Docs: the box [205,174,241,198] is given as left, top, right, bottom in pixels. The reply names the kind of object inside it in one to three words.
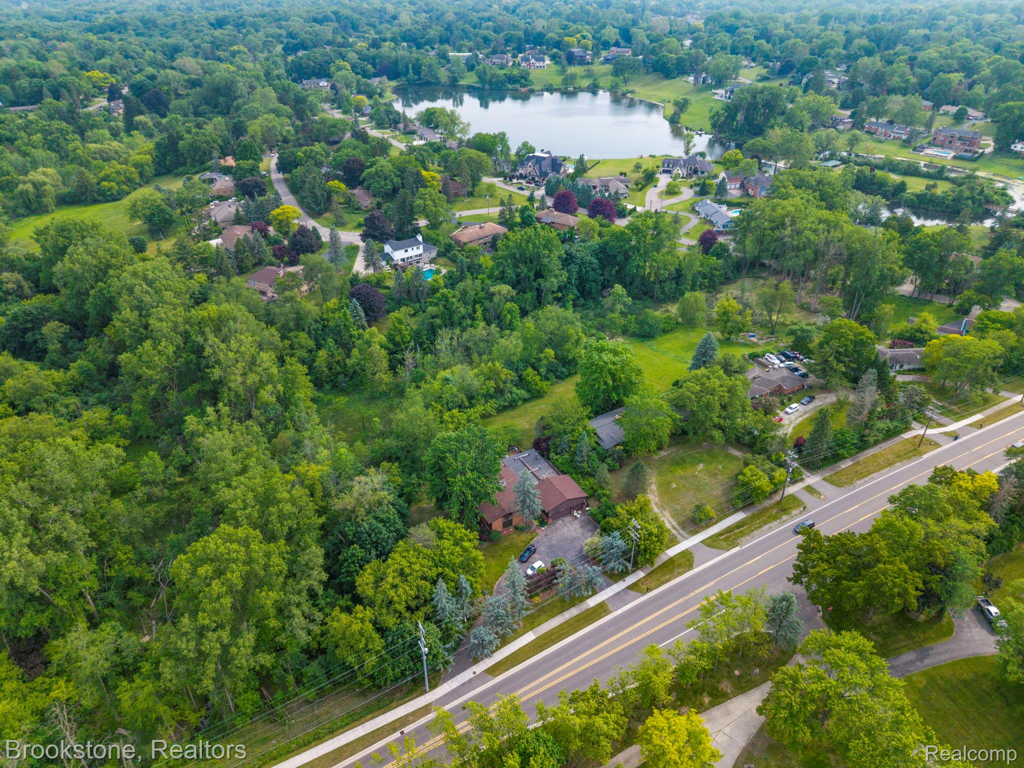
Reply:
house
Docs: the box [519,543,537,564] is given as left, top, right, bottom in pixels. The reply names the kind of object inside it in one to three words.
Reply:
car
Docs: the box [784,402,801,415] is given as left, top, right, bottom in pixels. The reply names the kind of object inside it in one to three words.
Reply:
vehicle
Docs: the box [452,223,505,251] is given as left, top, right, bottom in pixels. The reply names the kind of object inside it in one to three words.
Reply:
house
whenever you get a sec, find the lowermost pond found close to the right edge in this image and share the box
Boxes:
[855,201,1024,228]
